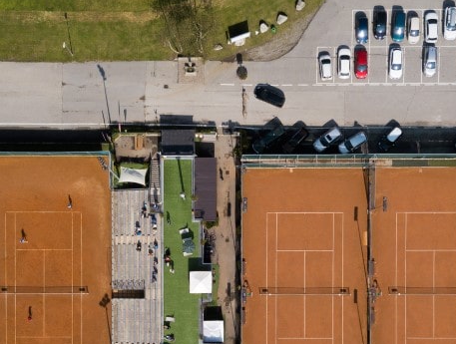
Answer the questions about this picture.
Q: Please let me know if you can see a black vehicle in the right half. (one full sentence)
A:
Yes, the scene does show a black vehicle in the right half.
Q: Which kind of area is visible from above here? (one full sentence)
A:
What you see here is a sports ground.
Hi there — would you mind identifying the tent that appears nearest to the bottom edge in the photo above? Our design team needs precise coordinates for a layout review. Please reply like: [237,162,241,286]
[202,320,224,344]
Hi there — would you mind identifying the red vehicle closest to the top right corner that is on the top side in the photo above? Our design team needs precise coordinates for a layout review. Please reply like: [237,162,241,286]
[354,49,369,78]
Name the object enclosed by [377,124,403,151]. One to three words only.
car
